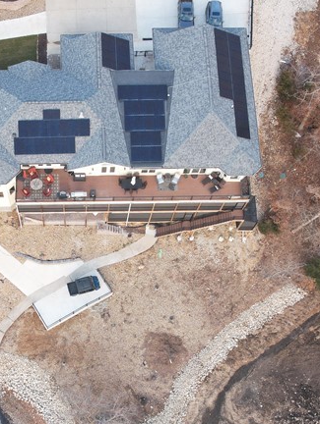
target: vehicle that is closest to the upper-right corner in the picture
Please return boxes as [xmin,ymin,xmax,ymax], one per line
[205,0,227,28]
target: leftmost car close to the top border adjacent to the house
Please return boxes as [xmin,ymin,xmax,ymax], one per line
[177,0,197,28]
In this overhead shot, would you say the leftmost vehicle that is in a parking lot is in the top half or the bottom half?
bottom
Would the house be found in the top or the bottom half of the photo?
top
